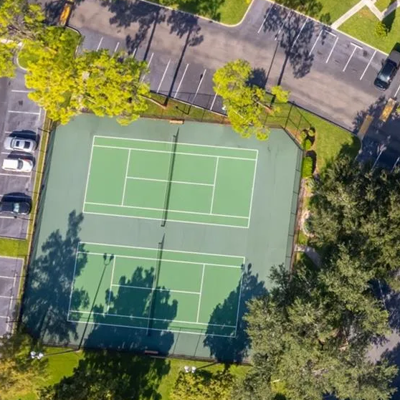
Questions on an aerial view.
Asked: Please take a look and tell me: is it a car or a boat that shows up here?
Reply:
car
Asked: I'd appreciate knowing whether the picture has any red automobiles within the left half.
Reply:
No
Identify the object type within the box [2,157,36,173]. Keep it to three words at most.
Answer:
car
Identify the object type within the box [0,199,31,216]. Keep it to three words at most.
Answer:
car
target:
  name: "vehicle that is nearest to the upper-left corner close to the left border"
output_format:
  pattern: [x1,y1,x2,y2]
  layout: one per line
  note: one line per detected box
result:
[4,136,39,152]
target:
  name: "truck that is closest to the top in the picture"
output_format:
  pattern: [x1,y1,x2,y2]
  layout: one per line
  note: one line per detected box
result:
[375,48,400,91]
